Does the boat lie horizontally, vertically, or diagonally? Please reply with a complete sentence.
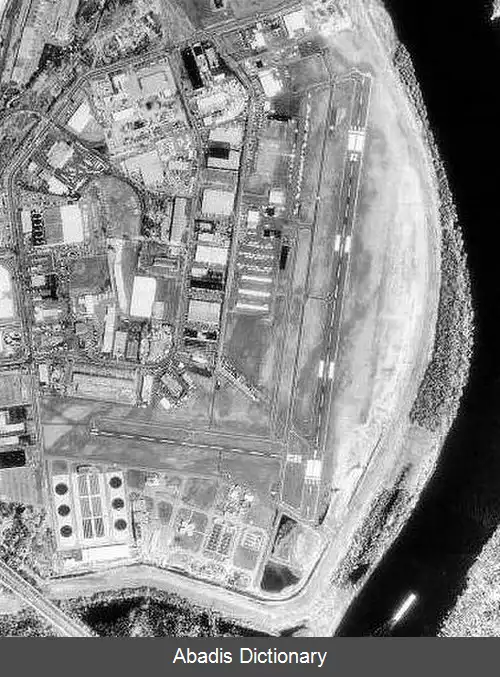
The boat runs diagonally in the image.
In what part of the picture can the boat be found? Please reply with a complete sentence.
The boat sits in the bottom right section of the image.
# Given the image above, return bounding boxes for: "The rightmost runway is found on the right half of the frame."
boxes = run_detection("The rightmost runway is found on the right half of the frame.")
[298,73,374,522]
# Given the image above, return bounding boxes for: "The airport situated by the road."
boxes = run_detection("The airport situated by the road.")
[91,56,374,522]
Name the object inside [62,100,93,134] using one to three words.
building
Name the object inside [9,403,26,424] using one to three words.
building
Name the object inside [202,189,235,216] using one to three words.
hangar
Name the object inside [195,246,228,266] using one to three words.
hangar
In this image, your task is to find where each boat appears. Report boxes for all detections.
[391,595,413,623]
